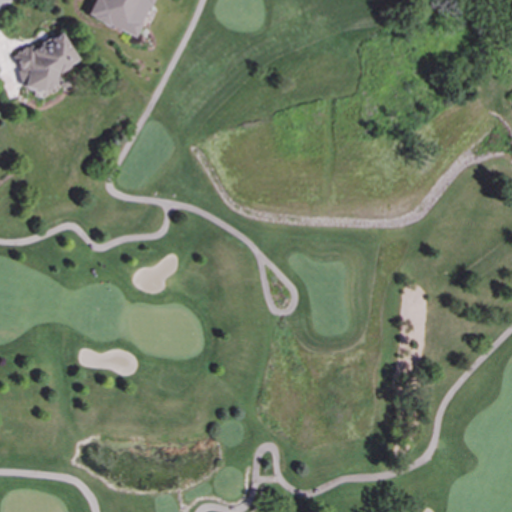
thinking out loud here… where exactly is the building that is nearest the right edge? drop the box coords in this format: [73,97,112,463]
[90,0,158,38]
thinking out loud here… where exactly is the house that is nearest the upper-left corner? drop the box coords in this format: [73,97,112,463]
[9,30,82,98]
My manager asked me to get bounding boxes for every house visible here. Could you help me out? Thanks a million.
[9,30,82,98]
[90,0,158,38]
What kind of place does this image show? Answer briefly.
golf course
